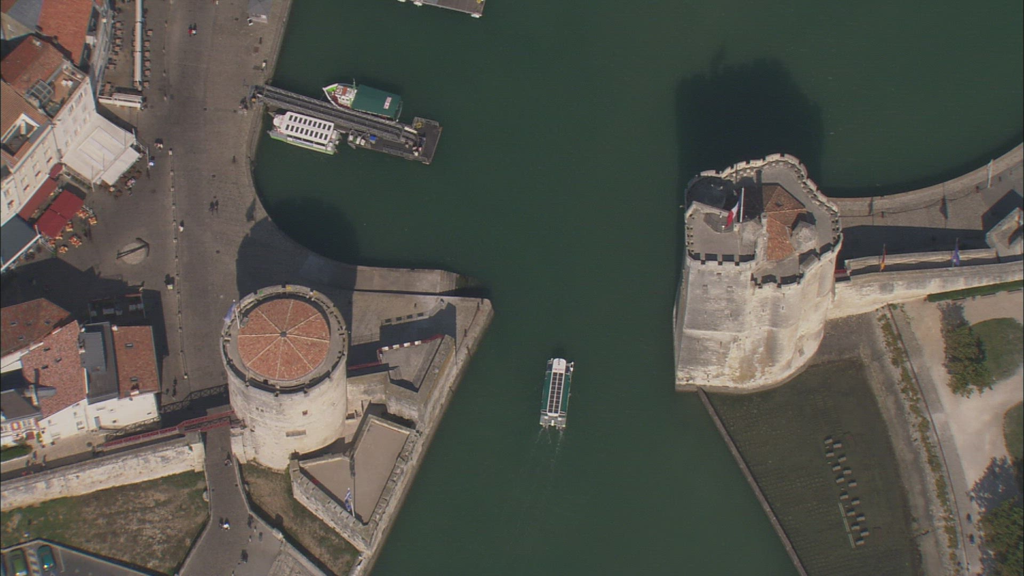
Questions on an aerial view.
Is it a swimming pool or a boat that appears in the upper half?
boat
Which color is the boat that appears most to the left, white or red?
white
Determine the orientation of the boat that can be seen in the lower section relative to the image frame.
from top to bottom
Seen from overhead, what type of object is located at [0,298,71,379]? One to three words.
house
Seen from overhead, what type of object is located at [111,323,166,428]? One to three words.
house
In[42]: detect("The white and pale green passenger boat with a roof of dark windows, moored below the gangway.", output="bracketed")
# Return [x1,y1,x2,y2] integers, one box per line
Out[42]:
[267,115,342,159]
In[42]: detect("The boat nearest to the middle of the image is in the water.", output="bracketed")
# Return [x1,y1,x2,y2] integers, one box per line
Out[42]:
[539,356,572,430]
